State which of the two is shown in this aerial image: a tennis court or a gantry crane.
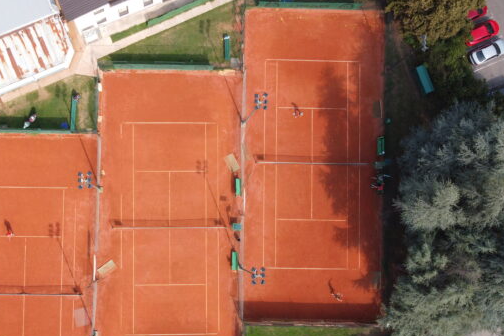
tennis court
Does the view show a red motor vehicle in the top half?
Yes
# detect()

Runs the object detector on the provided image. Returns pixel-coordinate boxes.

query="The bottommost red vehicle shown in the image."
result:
[470,19,503,44]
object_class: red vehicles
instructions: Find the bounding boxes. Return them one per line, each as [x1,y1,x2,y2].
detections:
[459,0,494,24]
[470,19,503,44]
